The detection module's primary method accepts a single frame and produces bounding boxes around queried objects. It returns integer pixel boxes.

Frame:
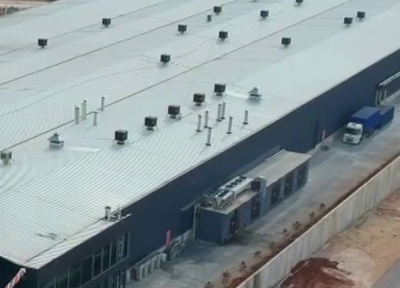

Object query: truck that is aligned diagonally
[345,100,397,141]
